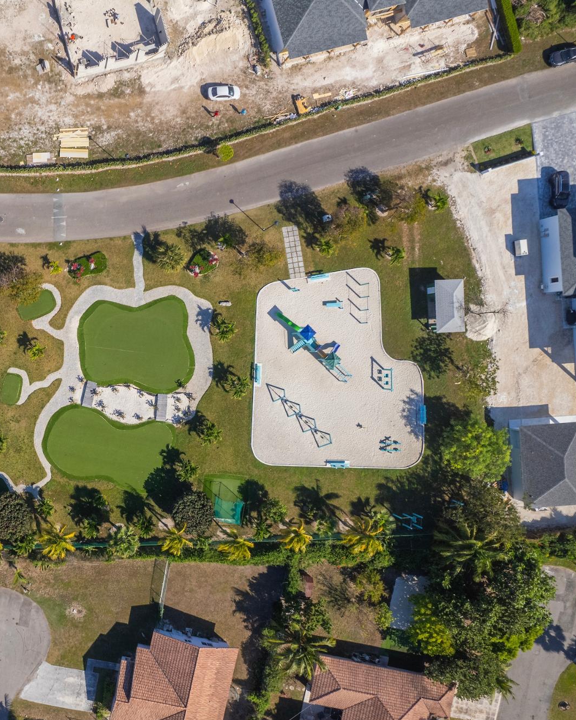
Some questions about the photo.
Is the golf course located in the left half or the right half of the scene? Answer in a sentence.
It is on the left.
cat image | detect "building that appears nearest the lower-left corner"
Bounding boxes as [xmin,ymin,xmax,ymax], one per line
[105,626,238,720]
